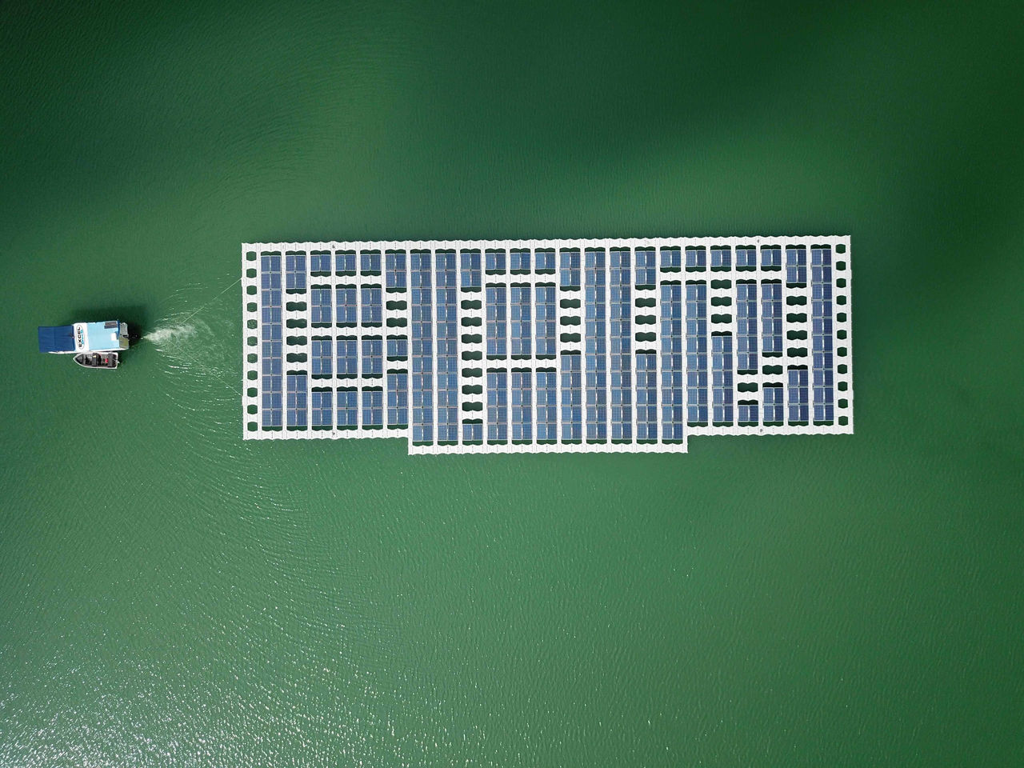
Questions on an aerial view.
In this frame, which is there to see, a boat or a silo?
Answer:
boat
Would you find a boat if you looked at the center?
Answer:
No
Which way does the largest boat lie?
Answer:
horizontally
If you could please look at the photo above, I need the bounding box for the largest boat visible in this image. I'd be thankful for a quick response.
[38,318,144,353]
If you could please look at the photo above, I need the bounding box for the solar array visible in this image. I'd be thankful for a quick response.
[241,235,853,455]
